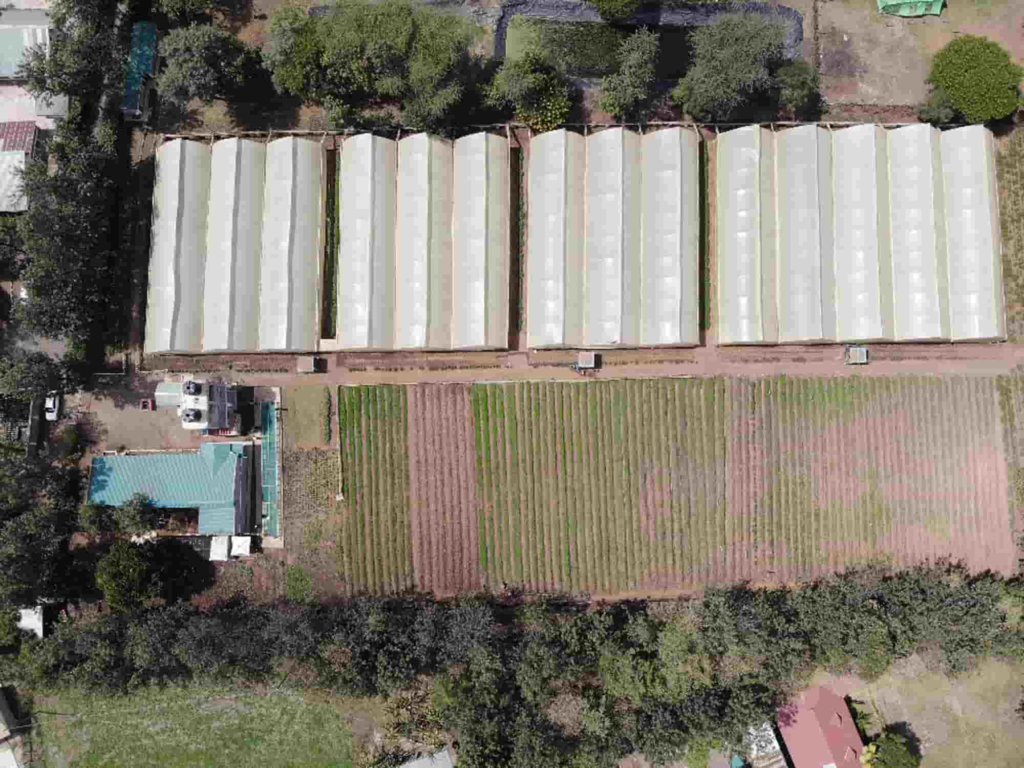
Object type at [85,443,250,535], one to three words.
house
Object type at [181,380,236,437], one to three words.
house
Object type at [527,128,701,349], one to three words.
greenhouse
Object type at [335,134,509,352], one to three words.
greenhouse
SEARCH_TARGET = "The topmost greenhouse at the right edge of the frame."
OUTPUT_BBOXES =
[711,125,1008,346]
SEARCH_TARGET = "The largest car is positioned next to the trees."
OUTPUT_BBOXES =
[43,391,63,422]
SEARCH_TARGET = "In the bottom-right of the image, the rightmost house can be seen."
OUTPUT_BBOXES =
[774,689,872,768]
